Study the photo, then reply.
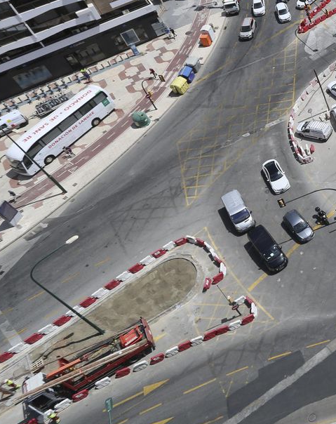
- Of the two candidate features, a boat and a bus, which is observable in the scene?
bus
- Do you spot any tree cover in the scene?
No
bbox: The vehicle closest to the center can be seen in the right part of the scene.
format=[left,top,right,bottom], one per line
[222,191,256,234]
